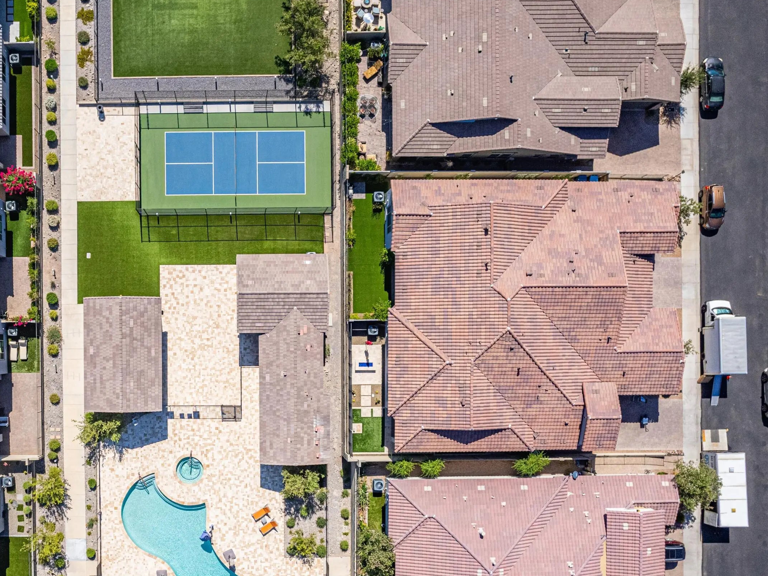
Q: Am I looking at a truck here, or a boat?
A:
truck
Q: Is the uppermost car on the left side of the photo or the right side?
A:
right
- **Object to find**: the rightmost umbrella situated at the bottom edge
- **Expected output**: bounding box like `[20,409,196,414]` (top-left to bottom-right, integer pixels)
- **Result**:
[224,549,236,567]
